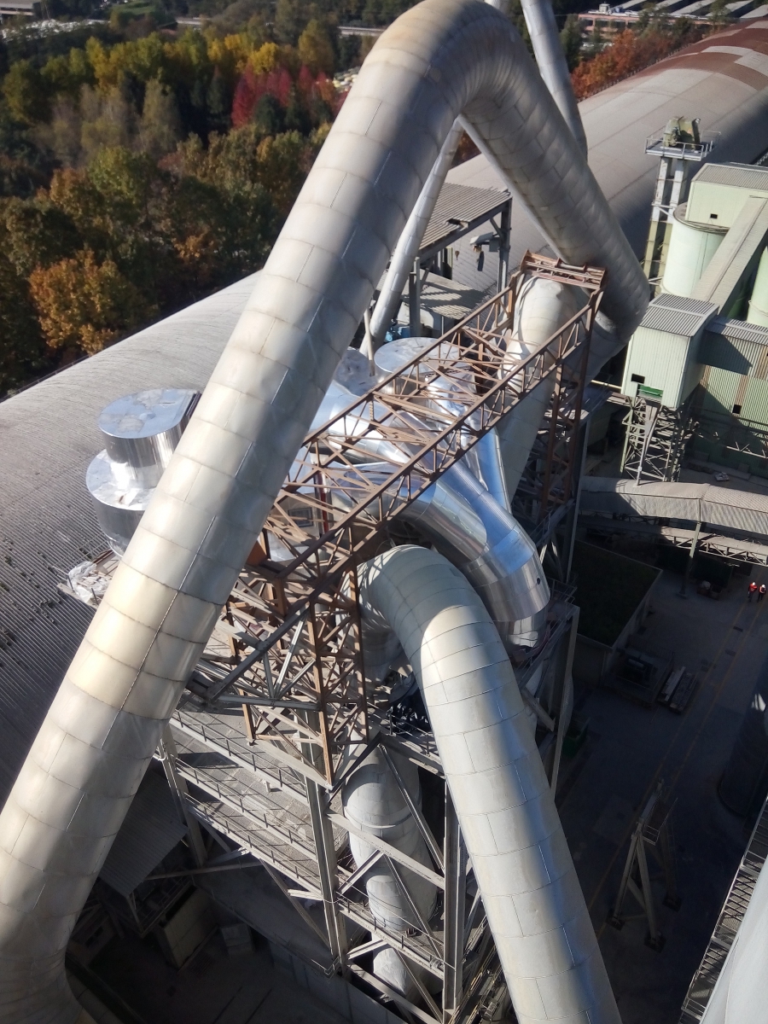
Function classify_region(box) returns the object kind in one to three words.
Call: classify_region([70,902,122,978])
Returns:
shed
